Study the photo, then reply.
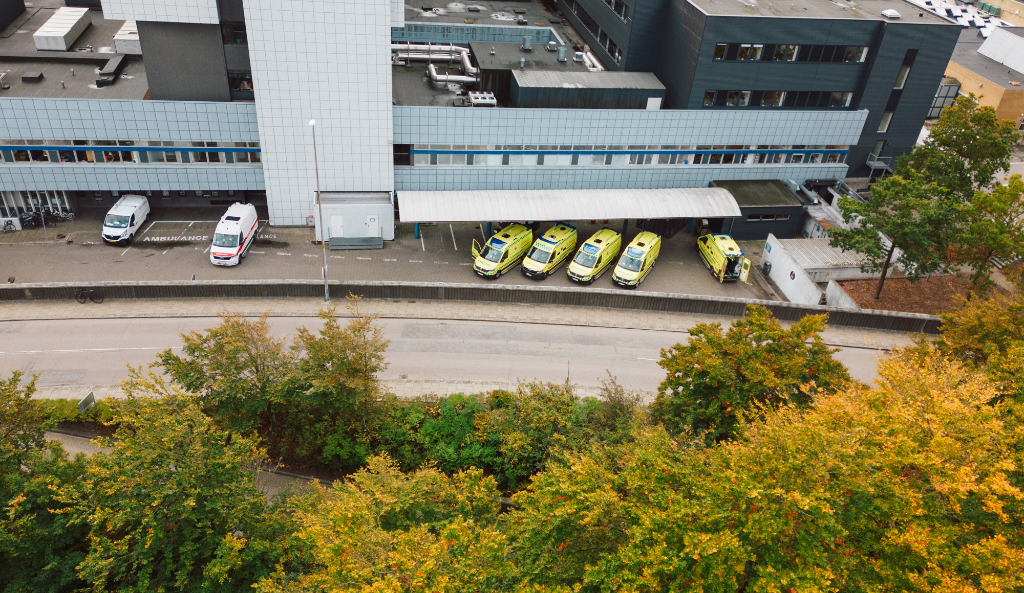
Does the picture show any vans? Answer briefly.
Yes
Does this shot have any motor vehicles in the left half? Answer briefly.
Yes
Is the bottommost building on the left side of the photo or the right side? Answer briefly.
right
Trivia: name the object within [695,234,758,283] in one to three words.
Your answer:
van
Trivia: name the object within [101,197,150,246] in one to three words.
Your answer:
van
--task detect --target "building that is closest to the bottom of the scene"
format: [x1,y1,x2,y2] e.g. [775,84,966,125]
[777,237,901,285]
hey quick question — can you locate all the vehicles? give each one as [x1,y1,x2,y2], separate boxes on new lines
[472,220,534,280]
[612,227,663,289]
[566,223,622,285]
[101,197,150,246]
[211,201,260,267]
[695,234,758,283]
[520,219,580,281]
